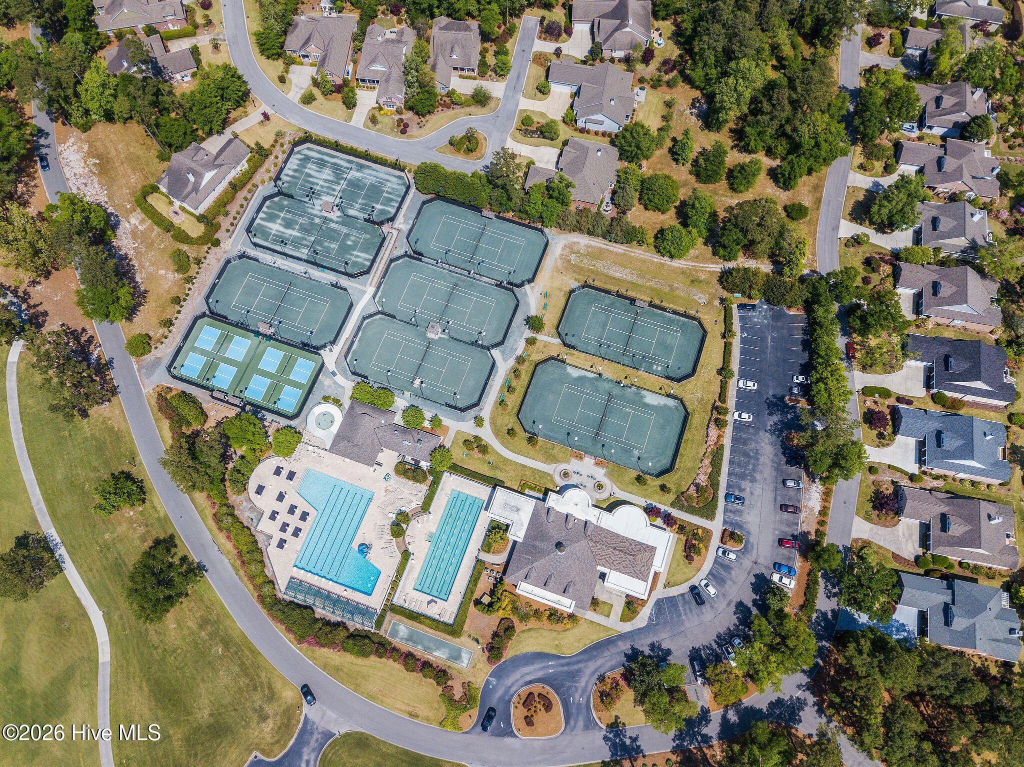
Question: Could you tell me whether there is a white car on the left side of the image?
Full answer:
No, there is no white car on the left side of the image.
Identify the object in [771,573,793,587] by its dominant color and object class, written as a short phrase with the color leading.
white car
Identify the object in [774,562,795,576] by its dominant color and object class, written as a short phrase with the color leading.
blue car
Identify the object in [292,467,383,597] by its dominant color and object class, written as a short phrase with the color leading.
blue swimming pool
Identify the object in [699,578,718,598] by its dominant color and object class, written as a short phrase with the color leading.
white car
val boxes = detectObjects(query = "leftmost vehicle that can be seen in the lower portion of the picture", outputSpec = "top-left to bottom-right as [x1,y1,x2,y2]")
[299,684,316,707]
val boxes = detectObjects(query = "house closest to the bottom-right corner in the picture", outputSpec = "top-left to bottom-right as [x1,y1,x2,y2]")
[895,573,1024,663]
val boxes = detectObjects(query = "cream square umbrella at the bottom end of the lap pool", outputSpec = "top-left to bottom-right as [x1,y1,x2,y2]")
[422,598,440,617]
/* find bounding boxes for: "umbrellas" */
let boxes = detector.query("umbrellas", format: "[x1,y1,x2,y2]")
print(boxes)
[286,503,297,515]
[291,526,302,538]
[275,537,287,550]
[268,509,279,521]
[422,598,440,617]
[272,464,283,475]
[298,510,309,522]
[285,469,296,480]
[253,483,264,495]
[275,490,286,502]
[279,521,290,533]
